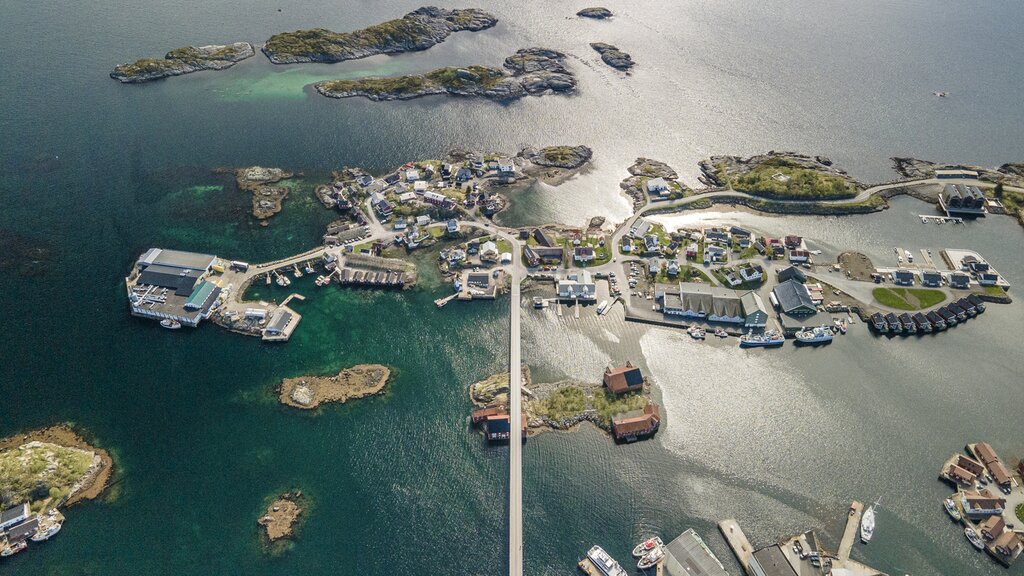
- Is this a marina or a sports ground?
marina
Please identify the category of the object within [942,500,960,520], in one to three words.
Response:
boat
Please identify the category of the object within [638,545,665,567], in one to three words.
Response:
boat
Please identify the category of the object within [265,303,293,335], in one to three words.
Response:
shed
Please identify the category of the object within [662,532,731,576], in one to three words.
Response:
building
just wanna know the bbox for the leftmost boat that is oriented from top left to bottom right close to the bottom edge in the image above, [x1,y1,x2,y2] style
[593,541,636,576]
